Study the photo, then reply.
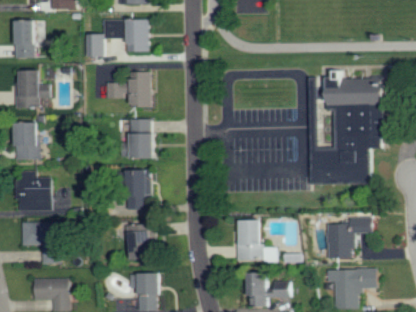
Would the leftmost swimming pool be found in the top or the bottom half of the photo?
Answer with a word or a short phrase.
top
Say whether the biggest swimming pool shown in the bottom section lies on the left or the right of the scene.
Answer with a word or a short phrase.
right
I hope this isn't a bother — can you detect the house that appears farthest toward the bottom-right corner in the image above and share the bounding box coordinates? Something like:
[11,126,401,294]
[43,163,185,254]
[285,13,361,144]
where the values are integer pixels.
[328,270,377,310]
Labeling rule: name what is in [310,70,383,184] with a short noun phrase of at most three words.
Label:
building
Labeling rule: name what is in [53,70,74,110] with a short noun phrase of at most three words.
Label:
swimming pool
